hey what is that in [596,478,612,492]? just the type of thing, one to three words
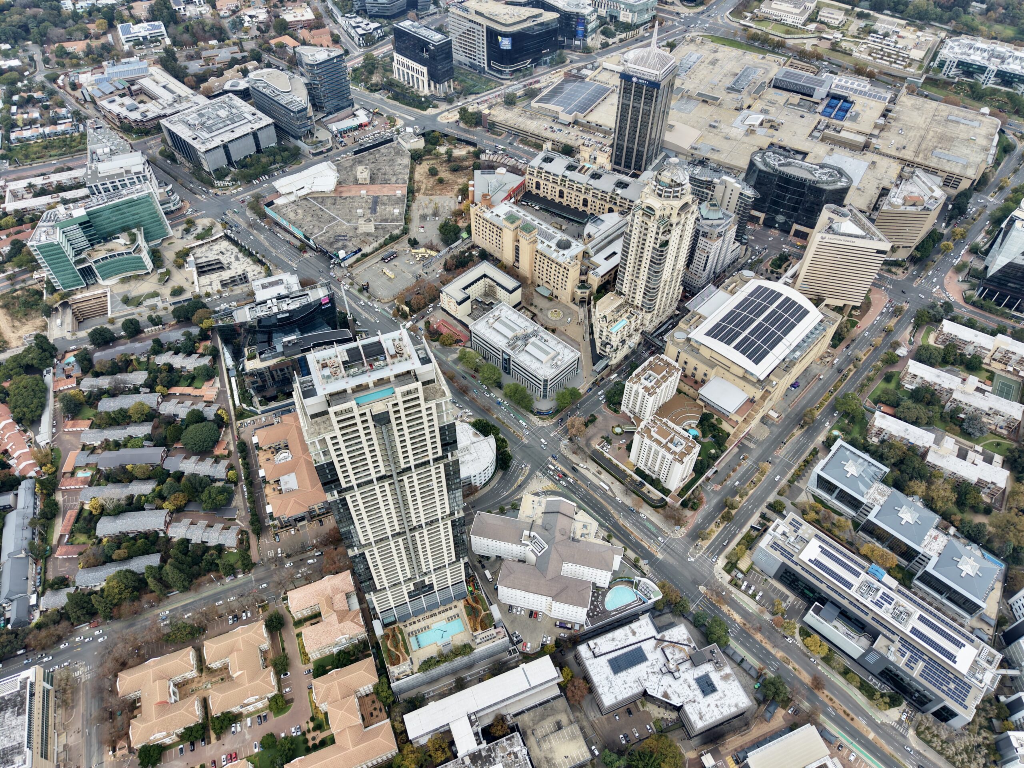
vehicle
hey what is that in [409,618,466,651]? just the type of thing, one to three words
swimming pool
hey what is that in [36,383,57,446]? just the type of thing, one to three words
shed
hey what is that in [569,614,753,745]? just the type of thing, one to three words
building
